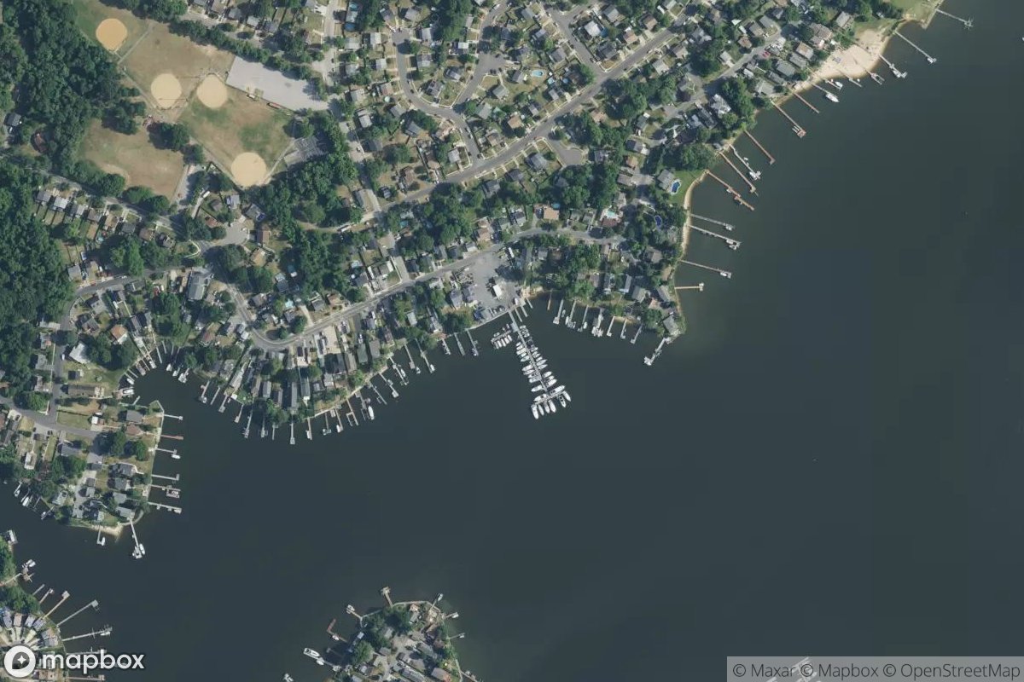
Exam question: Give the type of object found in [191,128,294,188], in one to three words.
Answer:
baseball field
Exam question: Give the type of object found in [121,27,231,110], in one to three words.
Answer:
baseball field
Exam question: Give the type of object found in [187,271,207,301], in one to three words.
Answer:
house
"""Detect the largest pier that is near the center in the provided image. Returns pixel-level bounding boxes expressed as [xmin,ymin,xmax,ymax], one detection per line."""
[491,307,564,404]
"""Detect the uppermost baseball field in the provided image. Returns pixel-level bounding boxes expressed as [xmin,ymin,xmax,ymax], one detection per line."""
[74,0,148,61]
